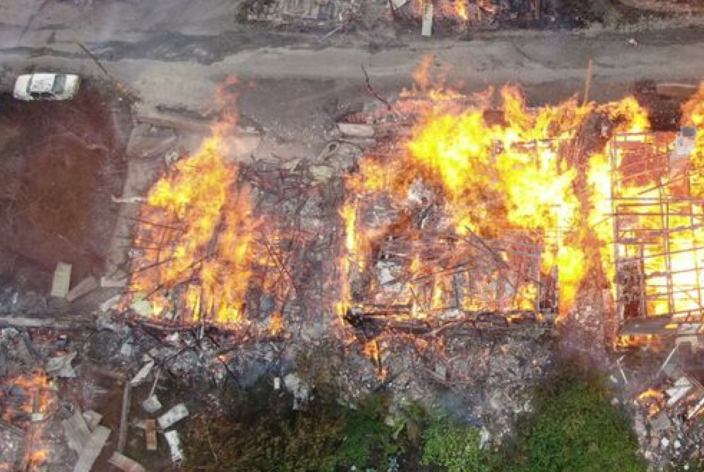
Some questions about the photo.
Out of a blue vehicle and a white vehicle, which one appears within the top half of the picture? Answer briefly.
white vehicle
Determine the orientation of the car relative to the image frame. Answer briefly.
from left to right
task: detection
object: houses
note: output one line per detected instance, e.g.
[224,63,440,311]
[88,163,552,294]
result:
[336,128,588,333]
[120,170,344,343]
[442,0,532,41]
[606,124,704,353]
